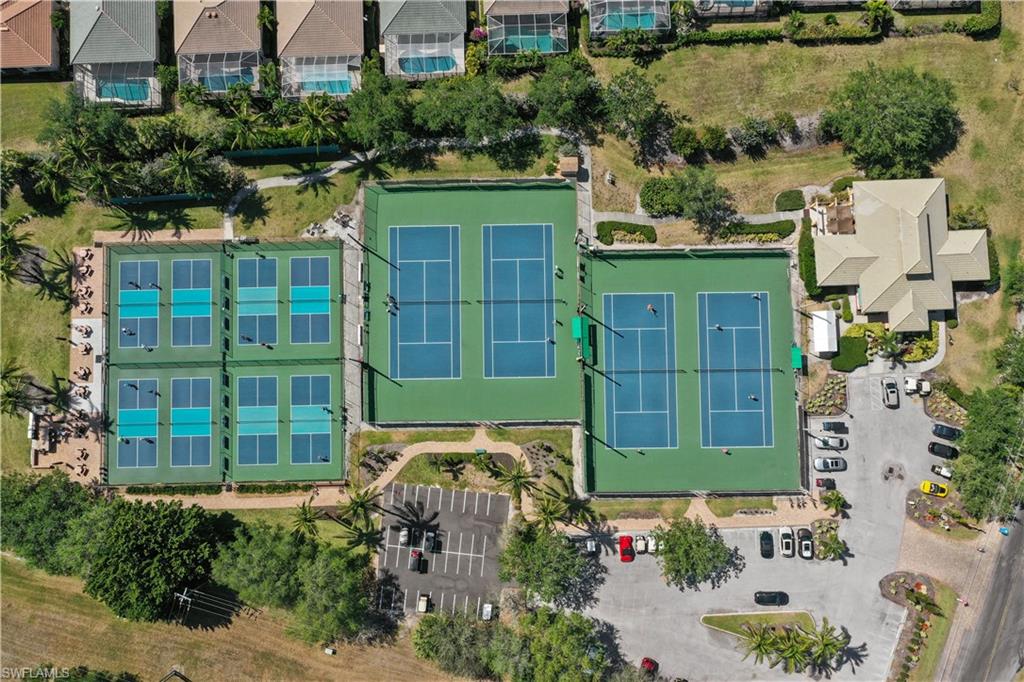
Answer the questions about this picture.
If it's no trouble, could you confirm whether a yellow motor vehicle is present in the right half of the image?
Yes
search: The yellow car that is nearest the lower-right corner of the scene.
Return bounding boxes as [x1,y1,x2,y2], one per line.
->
[919,481,949,497]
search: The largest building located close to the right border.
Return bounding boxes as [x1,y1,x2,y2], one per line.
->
[812,178,990,332]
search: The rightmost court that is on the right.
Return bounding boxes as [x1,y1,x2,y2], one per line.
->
[694,292,780,448]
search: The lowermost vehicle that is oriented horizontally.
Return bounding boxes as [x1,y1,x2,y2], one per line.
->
[754,591,787,606]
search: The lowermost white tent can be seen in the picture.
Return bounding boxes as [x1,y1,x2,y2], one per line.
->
[807,309,838,358]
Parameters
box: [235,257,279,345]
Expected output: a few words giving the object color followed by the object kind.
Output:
blue sports court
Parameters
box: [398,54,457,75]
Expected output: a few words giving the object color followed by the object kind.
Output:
blue swimming pool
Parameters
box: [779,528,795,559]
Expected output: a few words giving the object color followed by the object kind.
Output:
white car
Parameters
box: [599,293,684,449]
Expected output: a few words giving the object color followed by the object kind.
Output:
blue tennis court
